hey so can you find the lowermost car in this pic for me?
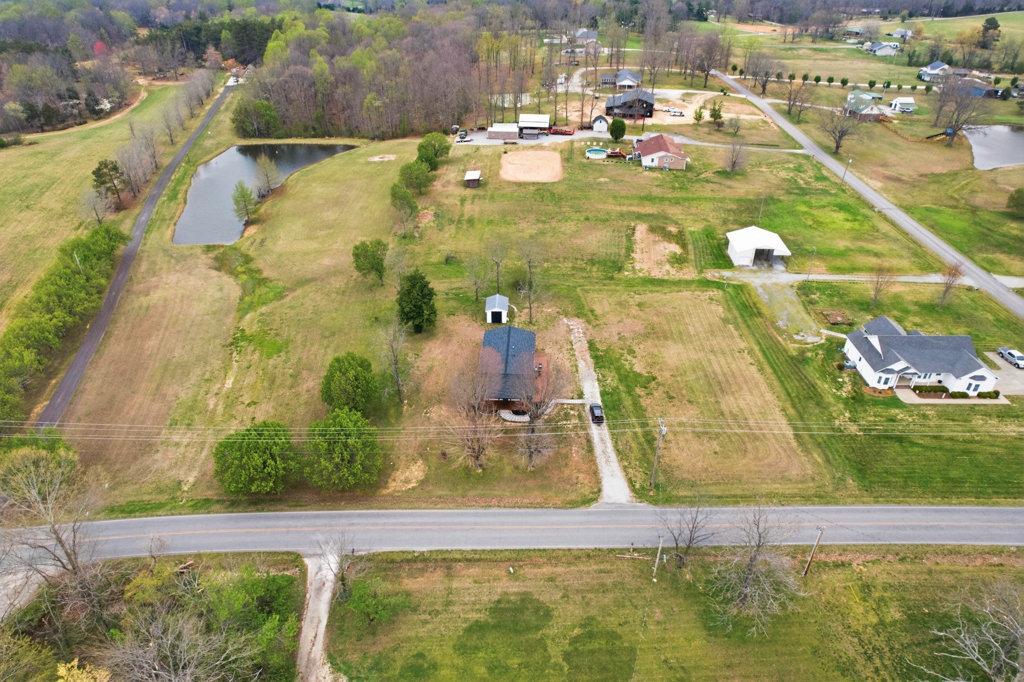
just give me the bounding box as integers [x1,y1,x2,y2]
[587,399,607,421]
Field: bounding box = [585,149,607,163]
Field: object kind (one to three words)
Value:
swimming pool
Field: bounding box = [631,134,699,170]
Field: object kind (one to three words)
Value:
house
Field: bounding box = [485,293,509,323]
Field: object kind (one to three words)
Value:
shed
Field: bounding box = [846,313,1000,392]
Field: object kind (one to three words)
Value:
house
